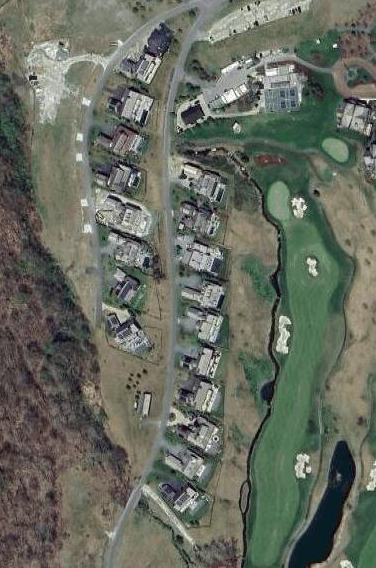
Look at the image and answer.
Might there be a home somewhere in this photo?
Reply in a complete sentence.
Yes, the image includes a home.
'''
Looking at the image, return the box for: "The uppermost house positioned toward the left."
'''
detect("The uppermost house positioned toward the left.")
[120,54,162,83]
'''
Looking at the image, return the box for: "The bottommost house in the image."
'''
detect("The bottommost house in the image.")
[160,483,205,512]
